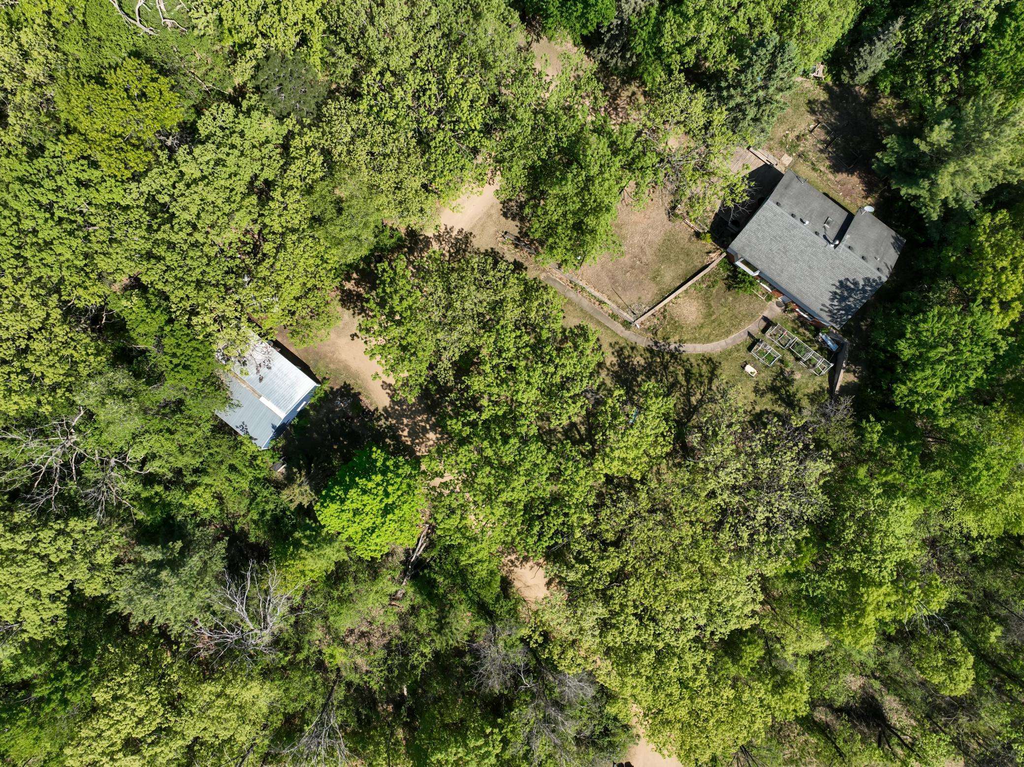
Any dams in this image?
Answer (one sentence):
No, I can see no dam in this picture.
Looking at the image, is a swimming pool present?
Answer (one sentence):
No, there's no swimming pool here.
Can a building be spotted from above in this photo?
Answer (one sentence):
Yes, the image includes a building.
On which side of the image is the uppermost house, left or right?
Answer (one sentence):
The uppermost house is on the right side of the image.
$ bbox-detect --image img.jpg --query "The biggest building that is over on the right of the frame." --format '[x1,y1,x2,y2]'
[721,167,910,334]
